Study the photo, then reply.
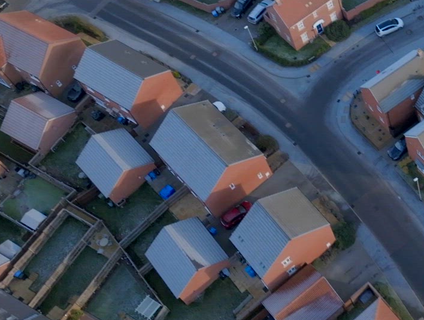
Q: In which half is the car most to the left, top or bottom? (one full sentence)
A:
Seen from above, the car most to the left lies in the top half of the view.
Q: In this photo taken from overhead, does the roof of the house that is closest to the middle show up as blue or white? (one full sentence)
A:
In this view, the roof of the house that is closest to the middle is blue.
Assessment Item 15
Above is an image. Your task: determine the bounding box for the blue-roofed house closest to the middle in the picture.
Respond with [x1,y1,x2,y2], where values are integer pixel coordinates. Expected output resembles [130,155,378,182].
[149,101,271,219]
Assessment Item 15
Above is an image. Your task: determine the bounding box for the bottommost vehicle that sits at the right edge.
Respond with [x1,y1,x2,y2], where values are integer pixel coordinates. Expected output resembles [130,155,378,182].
[384,135,409,163]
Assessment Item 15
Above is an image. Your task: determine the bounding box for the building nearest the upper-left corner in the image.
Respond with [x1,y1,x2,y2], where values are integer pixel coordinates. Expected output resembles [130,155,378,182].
[0,9,85,96]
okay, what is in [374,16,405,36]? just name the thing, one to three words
car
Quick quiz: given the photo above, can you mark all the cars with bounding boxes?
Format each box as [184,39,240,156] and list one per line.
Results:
[221,200,251,229]
[231,0,256,17]
[64,79,85,105]
[247,0,274,23]
[374,16,405,36]
[384,135,409,163]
